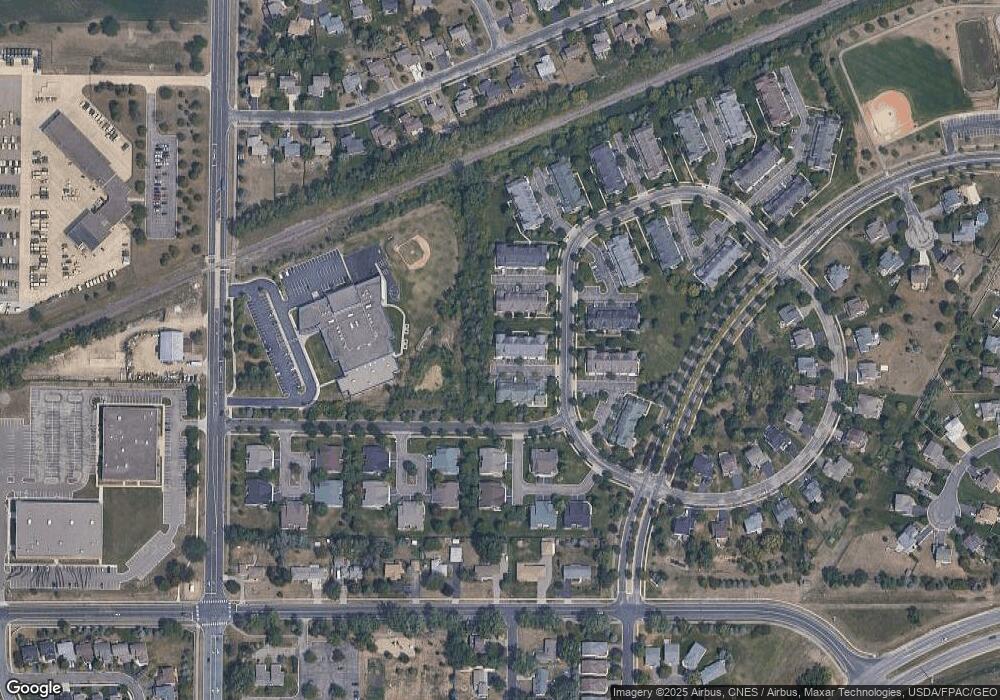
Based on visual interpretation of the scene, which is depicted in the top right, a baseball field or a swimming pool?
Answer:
baseball field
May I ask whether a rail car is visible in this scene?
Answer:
No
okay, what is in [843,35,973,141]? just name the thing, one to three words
baseball field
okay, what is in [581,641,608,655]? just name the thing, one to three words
house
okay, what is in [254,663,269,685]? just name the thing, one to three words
building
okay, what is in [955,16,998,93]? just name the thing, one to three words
sports field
